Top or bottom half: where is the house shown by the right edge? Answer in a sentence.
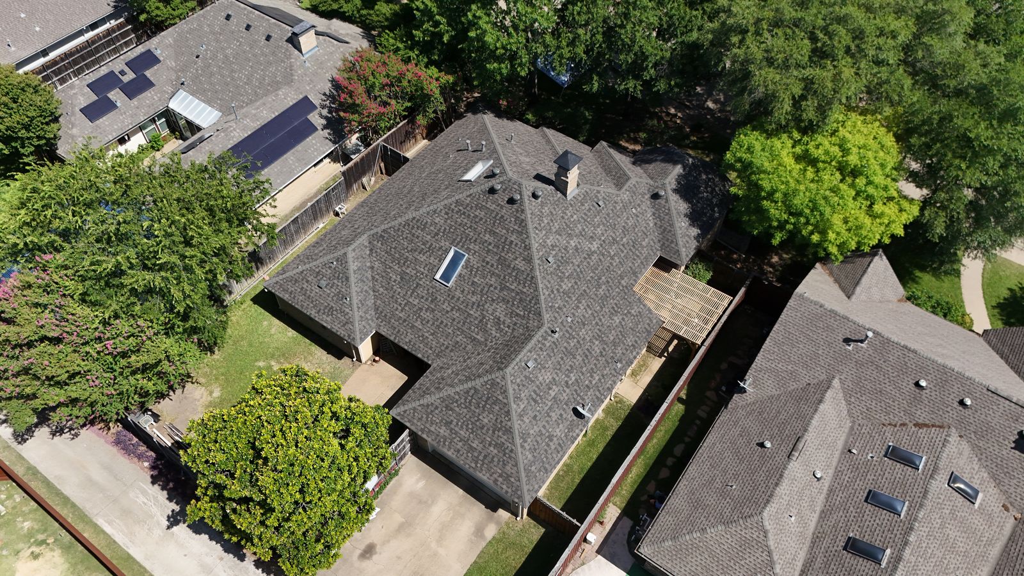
The house shown by the right edge sits in the bottom half of the picture.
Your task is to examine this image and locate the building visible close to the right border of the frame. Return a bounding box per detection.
[633,250,1024,576]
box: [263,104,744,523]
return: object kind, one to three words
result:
house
